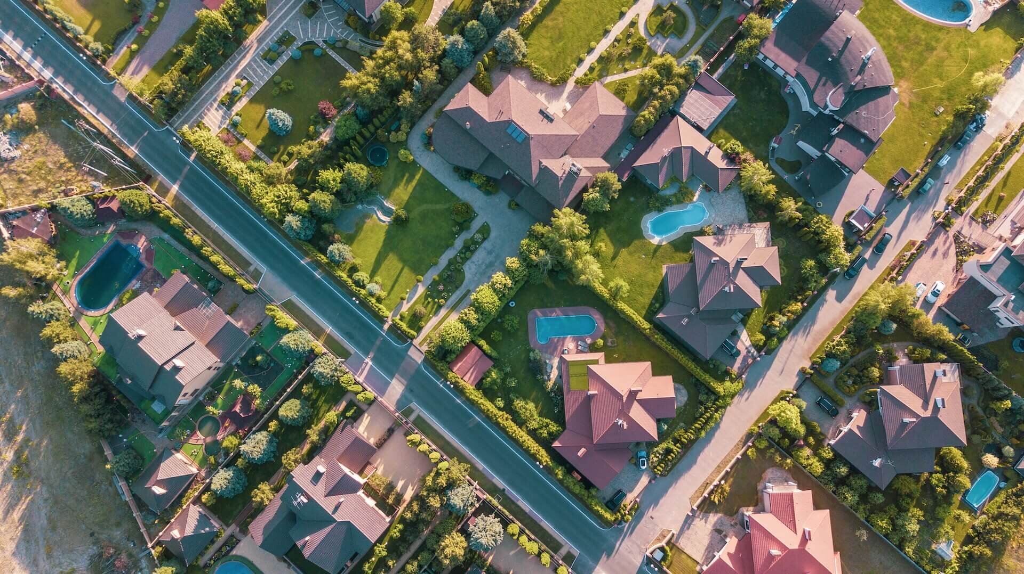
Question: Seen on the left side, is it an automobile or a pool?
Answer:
pool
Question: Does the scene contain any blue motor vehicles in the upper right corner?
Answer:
Yes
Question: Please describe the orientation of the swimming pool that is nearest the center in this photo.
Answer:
from left to right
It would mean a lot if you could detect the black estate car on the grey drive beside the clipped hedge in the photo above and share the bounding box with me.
[815,395,841,420]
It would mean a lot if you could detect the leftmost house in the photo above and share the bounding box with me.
[12,209,57,245]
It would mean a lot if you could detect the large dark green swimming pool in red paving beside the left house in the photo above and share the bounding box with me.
[72,238,148,312]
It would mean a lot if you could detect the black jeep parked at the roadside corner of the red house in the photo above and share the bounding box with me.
[605,487,629,511]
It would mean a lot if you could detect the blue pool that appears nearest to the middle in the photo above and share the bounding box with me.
[535,314,599,345]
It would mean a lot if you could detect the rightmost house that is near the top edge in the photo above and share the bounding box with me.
[755,0,898,198]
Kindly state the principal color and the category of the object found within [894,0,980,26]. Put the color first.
blue swimming pool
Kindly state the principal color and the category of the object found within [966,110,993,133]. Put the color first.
blue vehicle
